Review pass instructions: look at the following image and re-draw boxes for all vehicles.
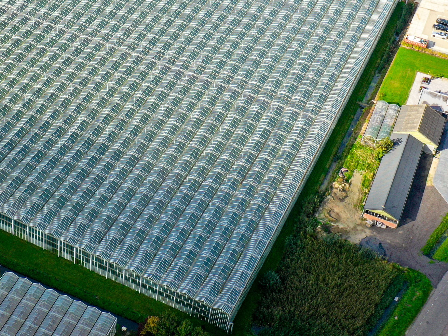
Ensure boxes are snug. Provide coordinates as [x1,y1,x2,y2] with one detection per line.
[436,17,448,27]
[433,24,448,33]
[433,32,448,40]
